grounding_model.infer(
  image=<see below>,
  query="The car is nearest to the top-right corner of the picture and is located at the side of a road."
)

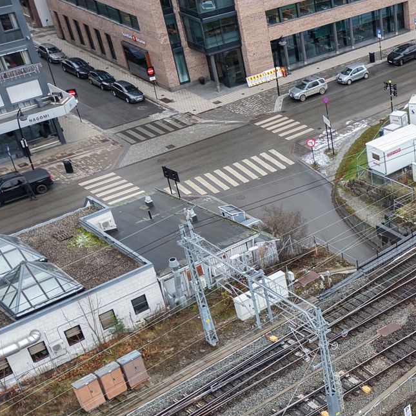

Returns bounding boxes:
[387,42,416,64]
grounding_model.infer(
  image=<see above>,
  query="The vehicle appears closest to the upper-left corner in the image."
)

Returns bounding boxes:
[35,41,63,61]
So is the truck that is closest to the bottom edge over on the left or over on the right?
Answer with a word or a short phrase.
left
